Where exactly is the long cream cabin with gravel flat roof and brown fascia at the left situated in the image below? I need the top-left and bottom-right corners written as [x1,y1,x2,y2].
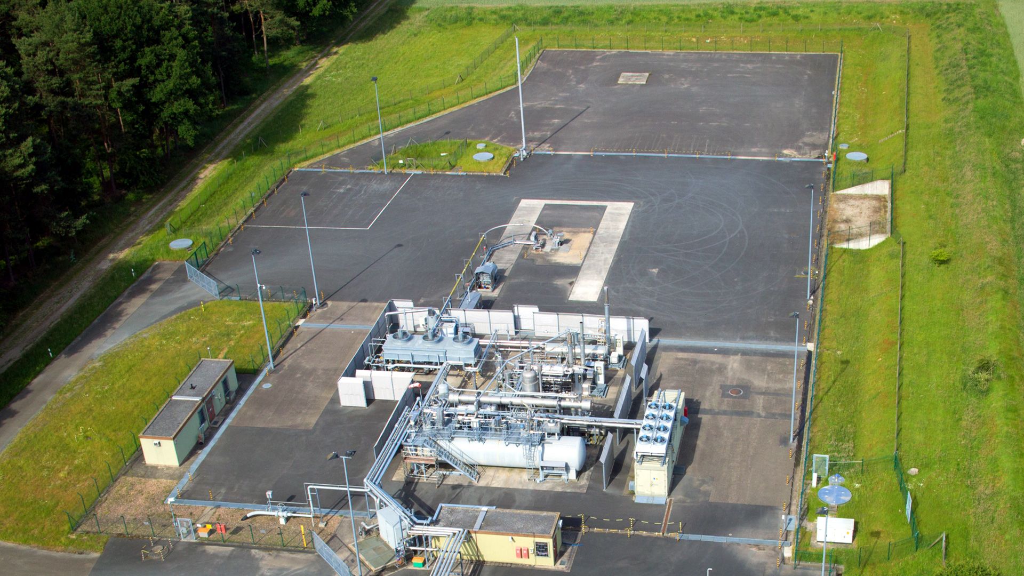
[135,360,238,467]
